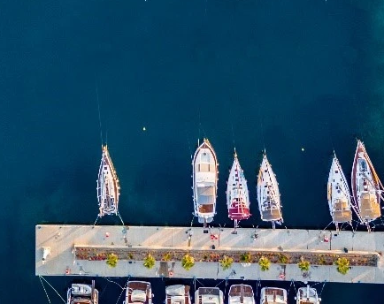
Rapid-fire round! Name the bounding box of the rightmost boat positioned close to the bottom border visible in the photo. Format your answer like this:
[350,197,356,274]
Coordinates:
[294,282,322,304]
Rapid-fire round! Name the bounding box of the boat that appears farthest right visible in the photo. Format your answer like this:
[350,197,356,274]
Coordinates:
[349,139,384,236]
